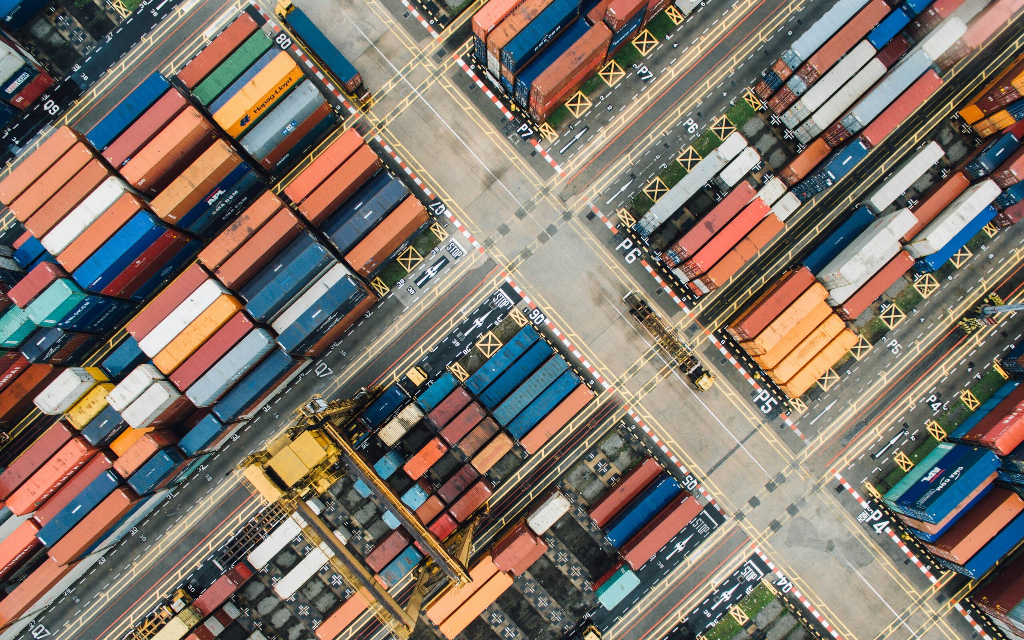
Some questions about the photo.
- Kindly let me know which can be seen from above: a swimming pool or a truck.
truck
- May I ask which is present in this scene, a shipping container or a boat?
shipping container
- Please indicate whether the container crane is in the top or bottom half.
bottom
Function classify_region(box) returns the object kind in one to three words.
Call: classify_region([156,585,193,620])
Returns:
truck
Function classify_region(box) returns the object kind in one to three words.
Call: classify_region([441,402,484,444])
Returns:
shipping container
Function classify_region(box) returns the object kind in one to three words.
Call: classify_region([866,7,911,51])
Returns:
shipping container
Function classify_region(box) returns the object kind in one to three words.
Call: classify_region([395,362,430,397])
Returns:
truck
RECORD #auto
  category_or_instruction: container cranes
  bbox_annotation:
[241,377,500,640]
